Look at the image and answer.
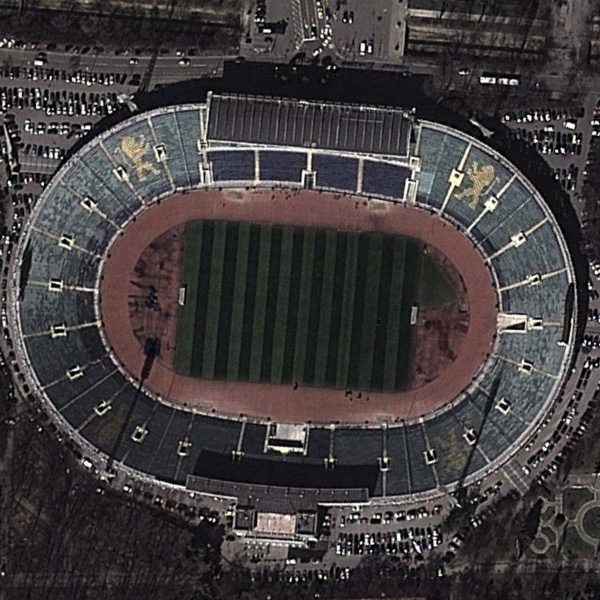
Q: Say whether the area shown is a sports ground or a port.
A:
sports ground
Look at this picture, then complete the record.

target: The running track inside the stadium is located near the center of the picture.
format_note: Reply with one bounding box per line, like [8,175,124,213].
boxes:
[99,185,497,424]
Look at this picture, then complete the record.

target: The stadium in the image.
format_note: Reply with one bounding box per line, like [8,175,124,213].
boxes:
[12,91,578,546]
